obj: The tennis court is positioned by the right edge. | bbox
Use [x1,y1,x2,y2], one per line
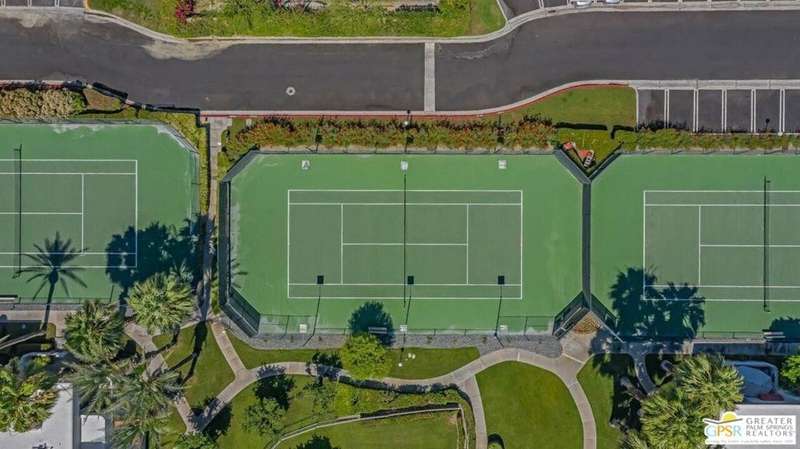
[590,155,800,337]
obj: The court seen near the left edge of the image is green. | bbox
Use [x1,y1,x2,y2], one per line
[0,123,198,302]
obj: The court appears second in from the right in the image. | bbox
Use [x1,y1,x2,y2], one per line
[229,154,583,334]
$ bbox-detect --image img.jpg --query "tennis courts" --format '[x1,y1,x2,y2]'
[0,123,198,302]
[229,154,583,334]
[590,155,800,337]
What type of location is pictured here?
sports ground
